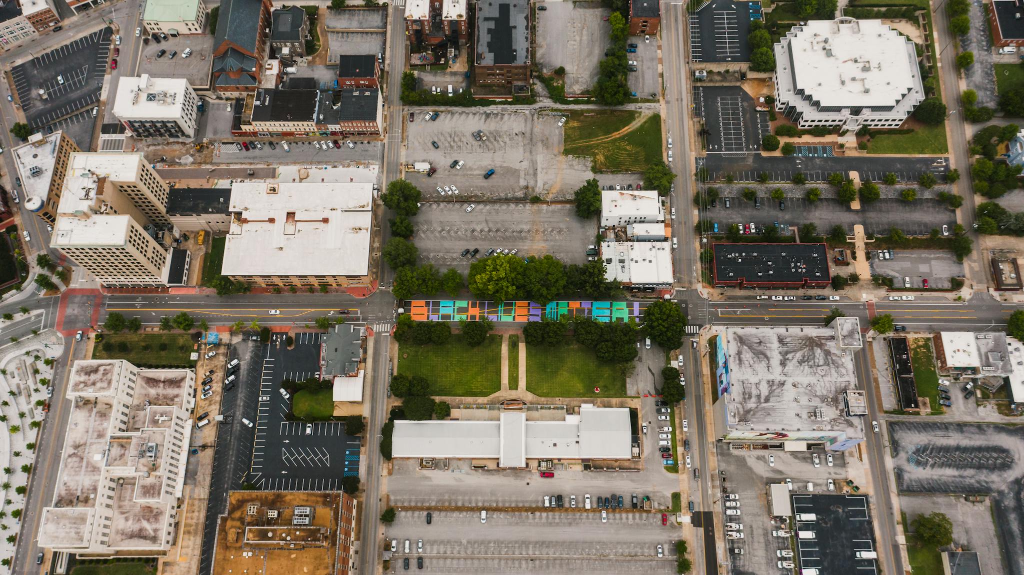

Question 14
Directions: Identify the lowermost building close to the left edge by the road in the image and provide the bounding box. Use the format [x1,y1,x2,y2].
[38,361,196,559]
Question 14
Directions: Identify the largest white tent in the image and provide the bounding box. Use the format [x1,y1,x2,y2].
[334,370,366,403]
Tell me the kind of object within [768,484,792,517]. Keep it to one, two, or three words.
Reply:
shed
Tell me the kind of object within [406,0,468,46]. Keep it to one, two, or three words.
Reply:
house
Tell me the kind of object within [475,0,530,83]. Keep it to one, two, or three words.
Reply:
building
